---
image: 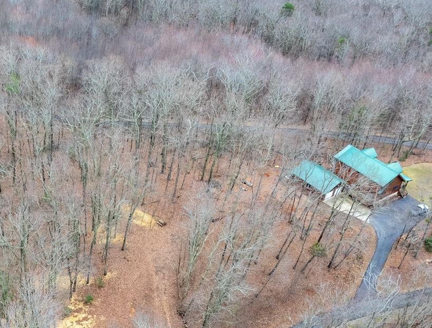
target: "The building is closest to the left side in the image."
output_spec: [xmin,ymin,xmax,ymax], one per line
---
[292,159,347,201]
